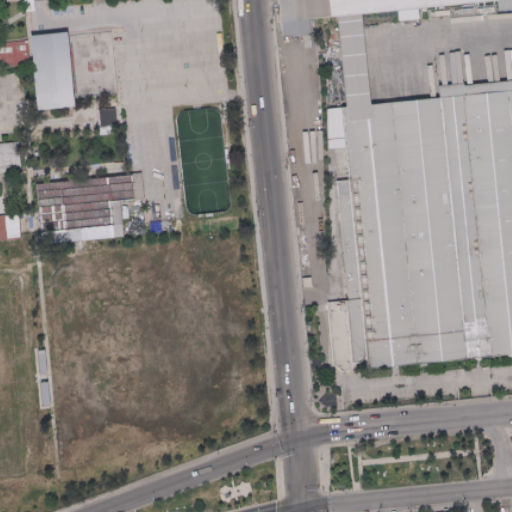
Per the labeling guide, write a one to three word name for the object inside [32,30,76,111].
building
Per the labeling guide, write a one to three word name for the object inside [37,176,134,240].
building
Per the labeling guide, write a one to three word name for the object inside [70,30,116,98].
sports court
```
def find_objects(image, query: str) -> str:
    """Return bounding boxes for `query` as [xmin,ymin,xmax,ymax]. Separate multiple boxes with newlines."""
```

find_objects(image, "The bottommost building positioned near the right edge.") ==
[347,80,512,368]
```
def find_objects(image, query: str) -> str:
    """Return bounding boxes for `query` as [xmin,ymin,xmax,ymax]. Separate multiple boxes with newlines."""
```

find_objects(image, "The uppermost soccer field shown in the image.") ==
[176,104,230,216]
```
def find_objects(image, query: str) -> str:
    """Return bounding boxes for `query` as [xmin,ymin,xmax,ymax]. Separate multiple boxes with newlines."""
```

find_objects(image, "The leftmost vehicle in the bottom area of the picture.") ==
[192,464,214,476]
